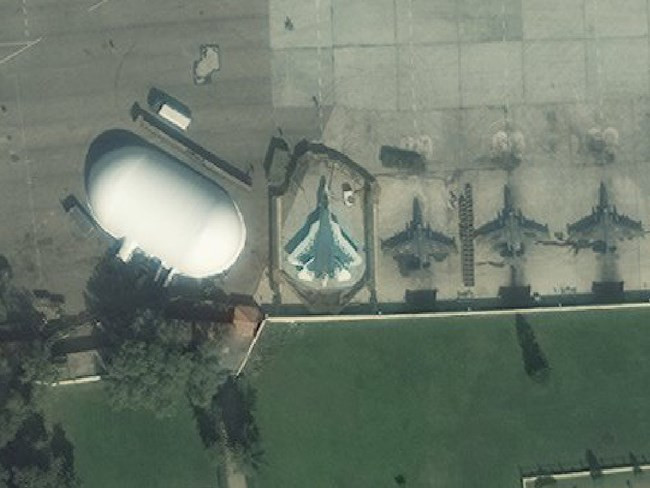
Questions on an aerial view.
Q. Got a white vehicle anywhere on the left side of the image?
Yes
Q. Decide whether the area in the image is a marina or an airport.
airport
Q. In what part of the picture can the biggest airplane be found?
center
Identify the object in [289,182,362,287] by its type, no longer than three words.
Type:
airplane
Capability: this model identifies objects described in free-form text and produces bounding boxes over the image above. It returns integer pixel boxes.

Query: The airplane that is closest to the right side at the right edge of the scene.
[569,185,646,268]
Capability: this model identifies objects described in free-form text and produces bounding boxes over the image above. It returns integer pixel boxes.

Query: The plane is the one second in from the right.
[477,188,553,270]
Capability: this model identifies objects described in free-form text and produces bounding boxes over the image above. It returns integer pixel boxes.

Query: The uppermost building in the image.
[86,143,249,291]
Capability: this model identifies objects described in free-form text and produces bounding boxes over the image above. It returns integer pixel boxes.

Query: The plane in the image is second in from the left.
[385,201,462,282]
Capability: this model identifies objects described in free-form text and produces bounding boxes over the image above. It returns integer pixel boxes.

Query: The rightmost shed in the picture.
[234,305,262,339]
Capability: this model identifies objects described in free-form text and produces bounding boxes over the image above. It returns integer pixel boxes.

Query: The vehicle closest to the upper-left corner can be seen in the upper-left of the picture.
[147,98,192,129]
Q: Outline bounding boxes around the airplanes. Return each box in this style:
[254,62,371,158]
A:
[289,182,362,287]
[385,201,462,282]
[477,188,553,270]
[569,185,646,268]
